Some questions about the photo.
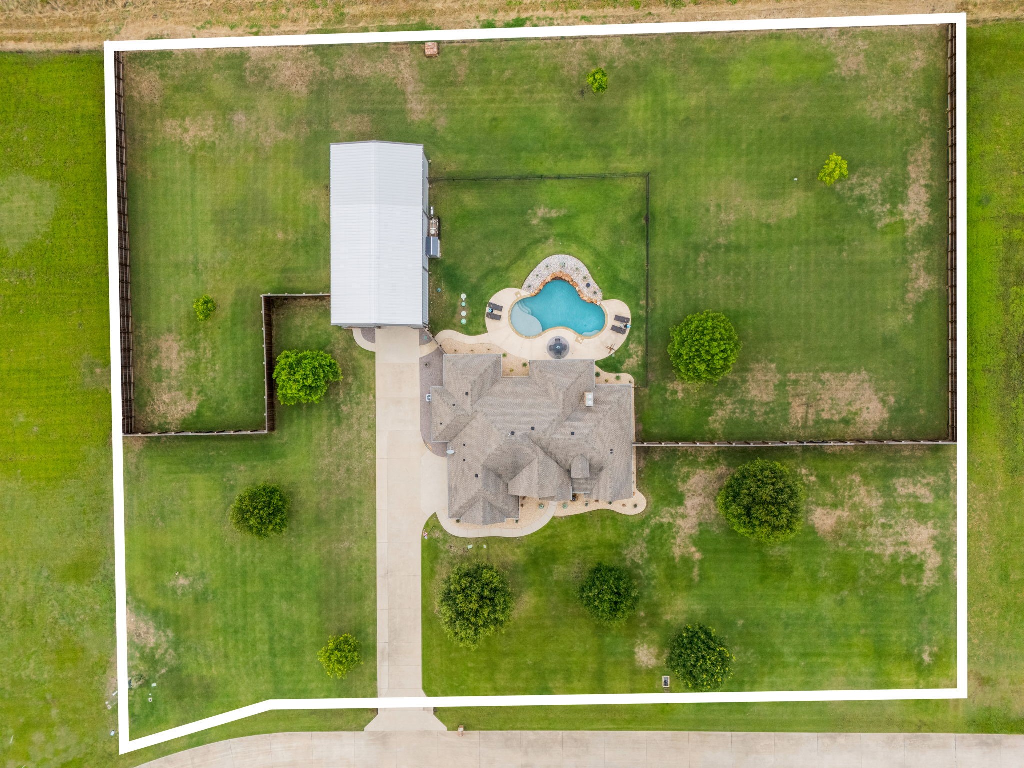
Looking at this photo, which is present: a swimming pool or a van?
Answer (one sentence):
The image shows a swimming pool.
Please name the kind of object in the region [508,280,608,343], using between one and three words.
swimming pool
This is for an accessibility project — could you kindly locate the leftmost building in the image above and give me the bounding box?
[329,139,431,331]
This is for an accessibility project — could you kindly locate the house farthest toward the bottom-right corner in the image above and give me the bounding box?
[430,353,633,527]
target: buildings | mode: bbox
[430,353,633,527]
[329,139,431,331]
